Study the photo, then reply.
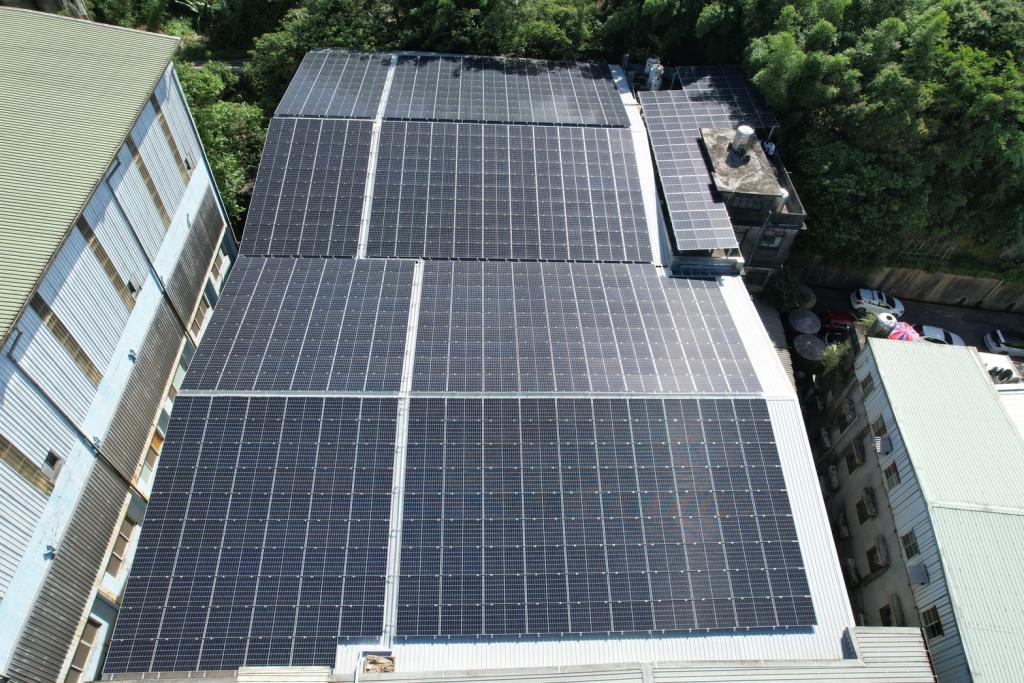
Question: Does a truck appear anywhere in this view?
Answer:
No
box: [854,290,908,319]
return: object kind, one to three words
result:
car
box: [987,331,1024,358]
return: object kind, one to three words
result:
car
